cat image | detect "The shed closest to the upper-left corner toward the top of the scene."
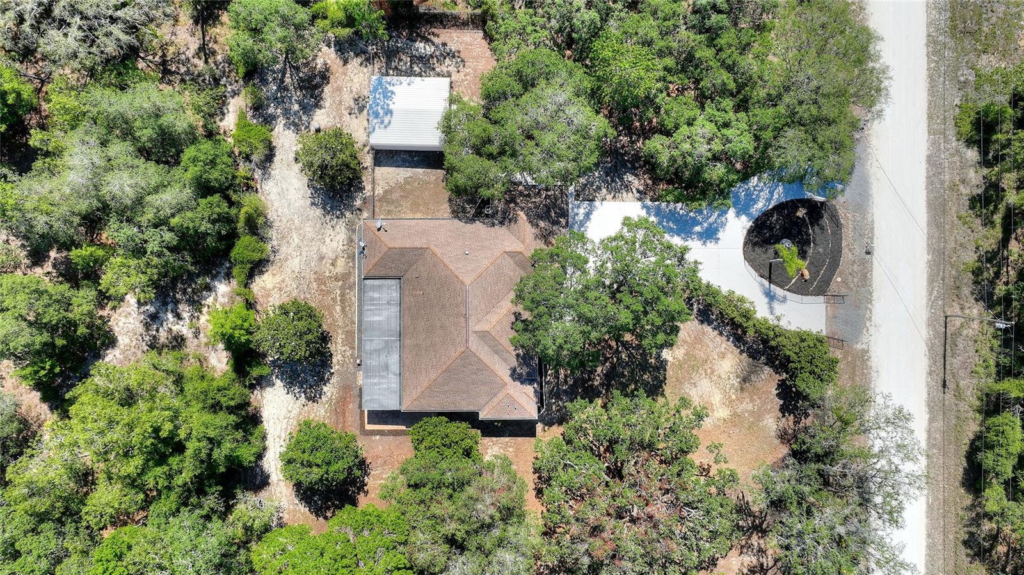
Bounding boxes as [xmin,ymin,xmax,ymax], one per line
[369,77,451,148]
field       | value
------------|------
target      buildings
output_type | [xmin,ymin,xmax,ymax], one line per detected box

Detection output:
[369,77,451,148]
[361,187,558,420]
